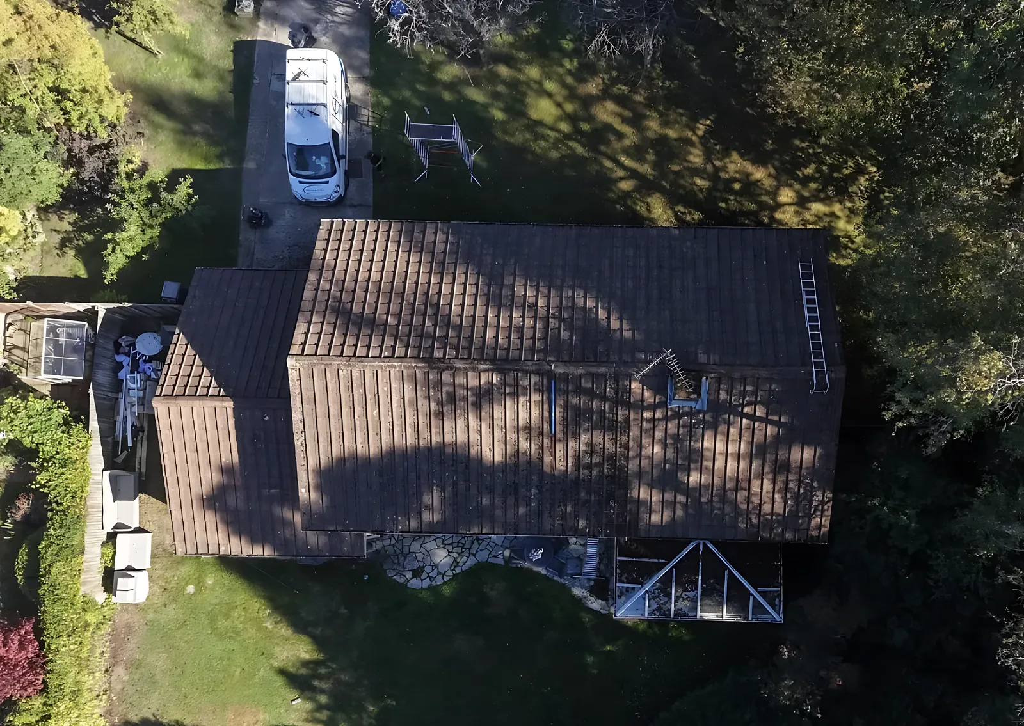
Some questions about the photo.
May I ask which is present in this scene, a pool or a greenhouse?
greenhouse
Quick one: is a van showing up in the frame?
Yes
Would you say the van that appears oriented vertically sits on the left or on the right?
left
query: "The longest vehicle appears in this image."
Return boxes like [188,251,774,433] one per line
[275,50,353,211]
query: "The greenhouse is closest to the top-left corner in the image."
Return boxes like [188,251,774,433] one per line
[45,318,98,385]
